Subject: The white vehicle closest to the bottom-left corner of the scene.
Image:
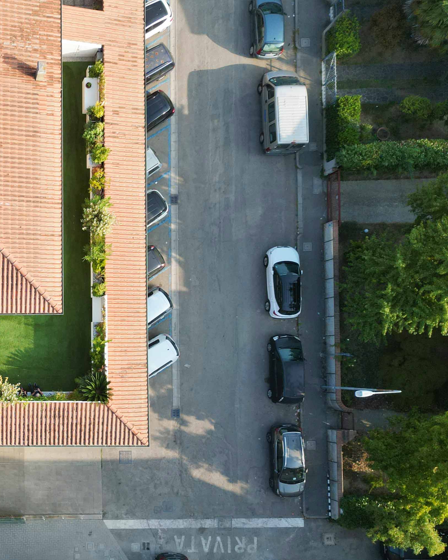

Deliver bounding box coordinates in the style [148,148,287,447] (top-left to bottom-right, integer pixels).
[150,334,184,377]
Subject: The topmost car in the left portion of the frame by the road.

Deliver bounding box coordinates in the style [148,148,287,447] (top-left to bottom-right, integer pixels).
[150,0,177,38]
